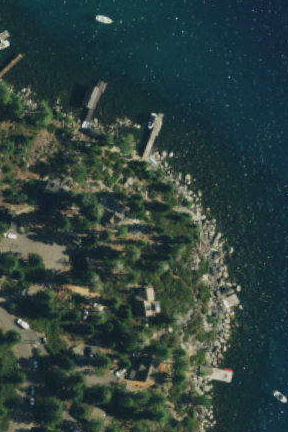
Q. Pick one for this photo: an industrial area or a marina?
marina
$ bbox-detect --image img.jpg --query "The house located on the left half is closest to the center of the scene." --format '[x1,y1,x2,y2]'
[96,194,130,227]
